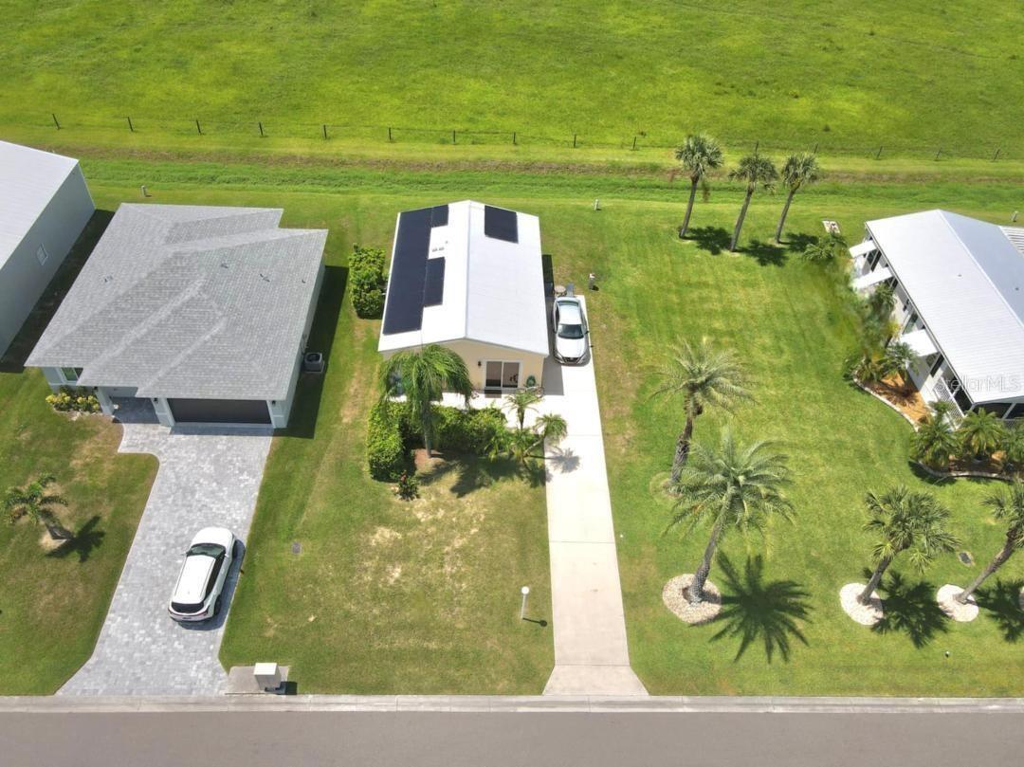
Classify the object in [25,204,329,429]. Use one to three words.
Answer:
house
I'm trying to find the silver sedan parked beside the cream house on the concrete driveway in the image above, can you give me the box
[550,298,590,359]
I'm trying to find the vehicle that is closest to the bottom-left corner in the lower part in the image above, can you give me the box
[167,531,238,628]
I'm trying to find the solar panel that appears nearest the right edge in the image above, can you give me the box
[484,204,519,243]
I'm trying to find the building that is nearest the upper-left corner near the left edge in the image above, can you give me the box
[0,142,94,358]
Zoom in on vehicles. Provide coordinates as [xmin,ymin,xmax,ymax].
[550,298,590,359]
[167,531,238,628]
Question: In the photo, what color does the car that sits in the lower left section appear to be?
white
